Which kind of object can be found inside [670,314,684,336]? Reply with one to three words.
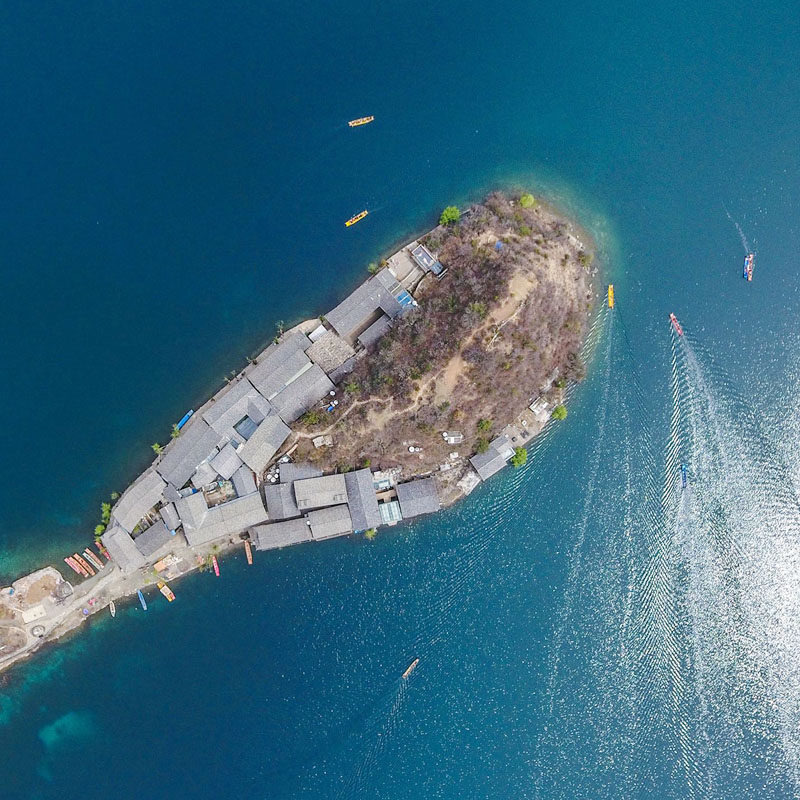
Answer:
boat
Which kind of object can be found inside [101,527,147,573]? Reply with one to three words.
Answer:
house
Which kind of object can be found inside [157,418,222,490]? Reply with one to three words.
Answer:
house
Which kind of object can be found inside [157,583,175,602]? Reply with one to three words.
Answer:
boat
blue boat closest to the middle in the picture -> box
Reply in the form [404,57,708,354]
[177,409,193,430]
